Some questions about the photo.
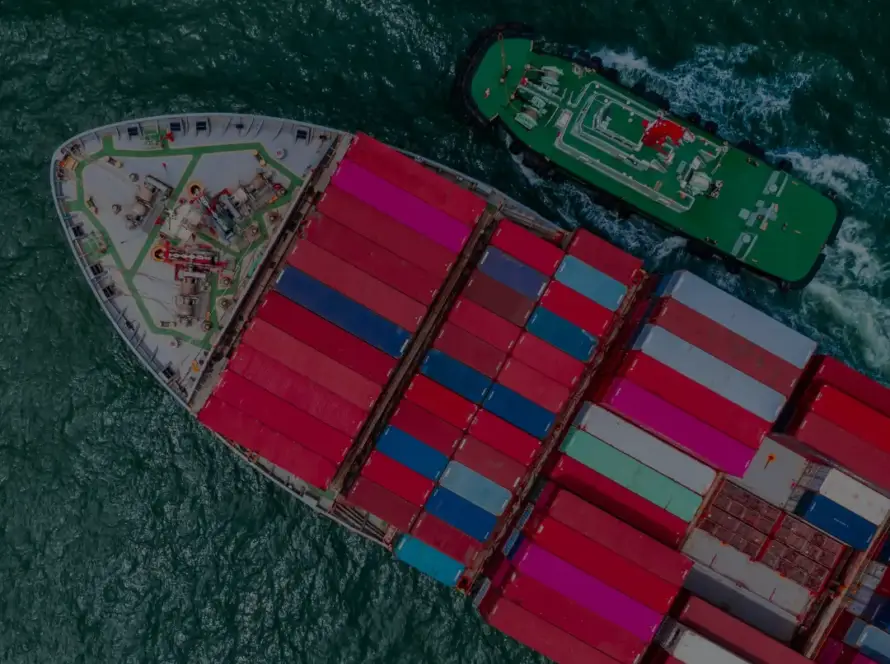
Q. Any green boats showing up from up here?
Yes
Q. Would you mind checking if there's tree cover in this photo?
No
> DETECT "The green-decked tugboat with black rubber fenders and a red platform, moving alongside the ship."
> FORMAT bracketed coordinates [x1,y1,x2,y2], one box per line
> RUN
[461,28,840,288]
